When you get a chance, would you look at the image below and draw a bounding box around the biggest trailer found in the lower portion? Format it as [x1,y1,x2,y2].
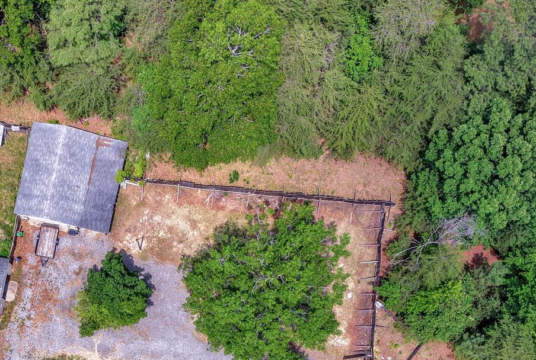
[34,221,60,268]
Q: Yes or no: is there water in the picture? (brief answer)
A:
No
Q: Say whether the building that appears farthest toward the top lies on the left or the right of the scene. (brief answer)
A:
left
